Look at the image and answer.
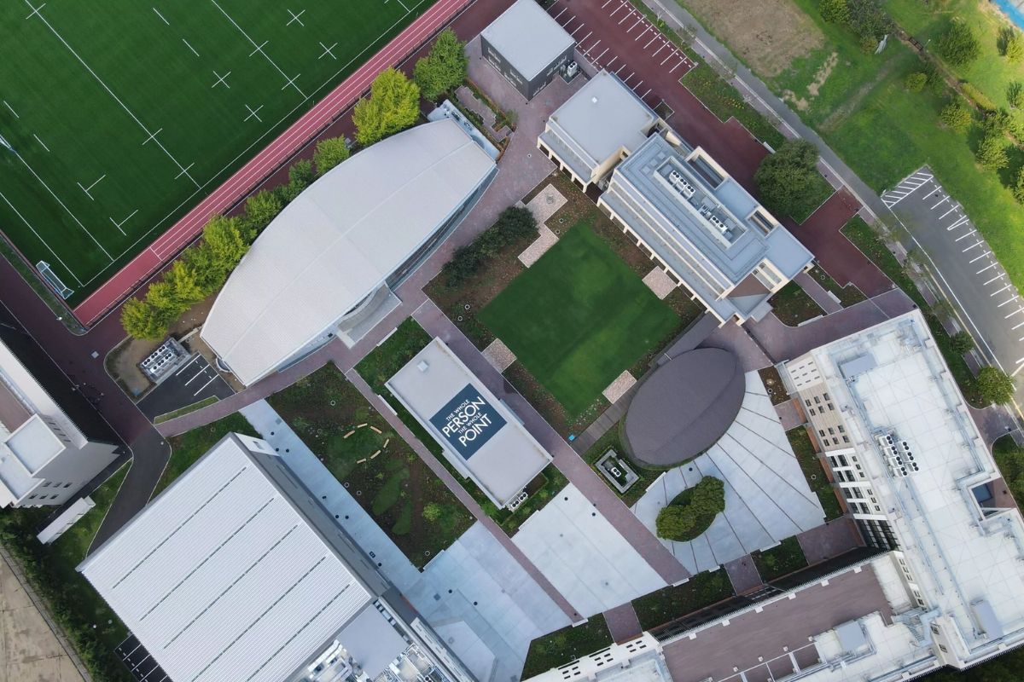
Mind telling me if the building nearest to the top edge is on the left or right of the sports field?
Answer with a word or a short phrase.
to its right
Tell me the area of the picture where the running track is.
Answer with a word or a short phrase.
top left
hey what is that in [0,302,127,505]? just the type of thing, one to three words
building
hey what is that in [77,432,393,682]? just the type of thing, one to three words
building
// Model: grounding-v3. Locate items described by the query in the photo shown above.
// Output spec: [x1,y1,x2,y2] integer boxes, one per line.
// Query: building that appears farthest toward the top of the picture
[480,0,576,101]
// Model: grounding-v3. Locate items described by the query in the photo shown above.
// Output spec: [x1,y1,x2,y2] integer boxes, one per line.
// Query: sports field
[0,0,436,309]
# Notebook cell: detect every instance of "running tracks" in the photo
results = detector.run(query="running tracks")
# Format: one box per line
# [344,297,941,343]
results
[0,0,466,326]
